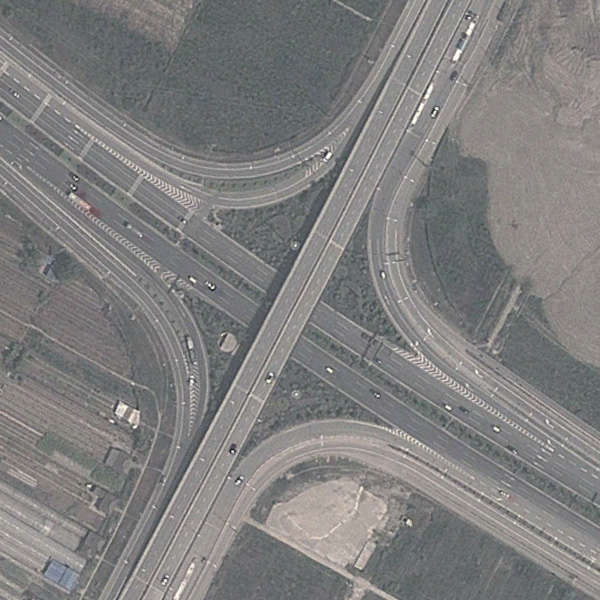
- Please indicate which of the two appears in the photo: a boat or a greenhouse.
greenhouse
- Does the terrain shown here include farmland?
Yes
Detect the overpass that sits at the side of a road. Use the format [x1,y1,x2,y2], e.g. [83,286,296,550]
[120,0,473,600]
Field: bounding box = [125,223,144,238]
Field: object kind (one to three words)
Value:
vehicle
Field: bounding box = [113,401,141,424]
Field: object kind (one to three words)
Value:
house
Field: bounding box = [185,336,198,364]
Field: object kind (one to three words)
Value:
vehicle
